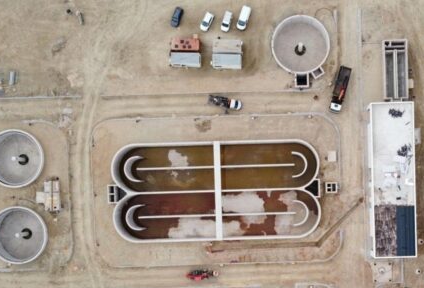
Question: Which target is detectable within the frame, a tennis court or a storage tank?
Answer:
storage tank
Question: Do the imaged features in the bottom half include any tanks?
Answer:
Yes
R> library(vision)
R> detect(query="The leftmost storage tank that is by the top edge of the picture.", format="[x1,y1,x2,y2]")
[272,14,330,74]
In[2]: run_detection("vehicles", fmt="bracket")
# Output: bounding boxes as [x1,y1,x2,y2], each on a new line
[329,65,352,115]
[184,268,212,280]
[208,94,245,115]
[200,11,215,32]
[220,9,233,34]
[236,4,251,33]
[170,6,185,28]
